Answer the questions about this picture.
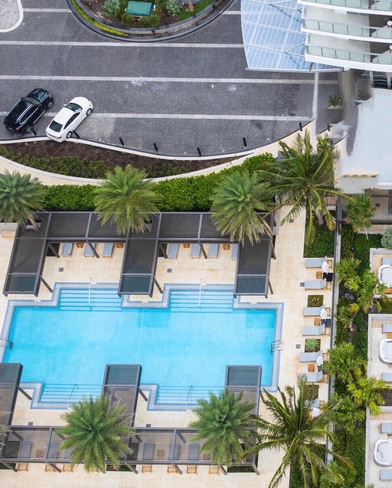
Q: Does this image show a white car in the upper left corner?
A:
Yes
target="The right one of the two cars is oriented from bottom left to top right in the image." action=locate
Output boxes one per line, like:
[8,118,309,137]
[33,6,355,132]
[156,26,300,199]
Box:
[40,98,91,142]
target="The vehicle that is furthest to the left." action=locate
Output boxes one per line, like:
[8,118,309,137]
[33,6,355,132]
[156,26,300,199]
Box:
[4,91,49,133]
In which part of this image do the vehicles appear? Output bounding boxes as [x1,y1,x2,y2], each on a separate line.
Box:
[40,98,91,142]
[4,91,49,133]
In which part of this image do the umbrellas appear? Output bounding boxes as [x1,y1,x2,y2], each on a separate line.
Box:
[323,263,332,282]
[321,308,330,327]
[315,356,326,373]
